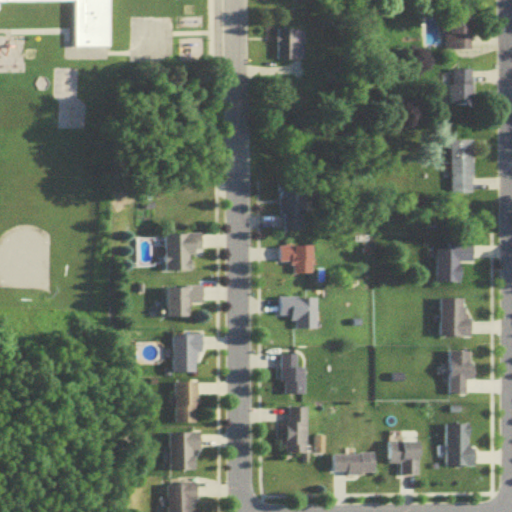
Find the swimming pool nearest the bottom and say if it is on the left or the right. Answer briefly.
left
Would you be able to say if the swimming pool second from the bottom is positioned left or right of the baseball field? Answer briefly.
to the right of it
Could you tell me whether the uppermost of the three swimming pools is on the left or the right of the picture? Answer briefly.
right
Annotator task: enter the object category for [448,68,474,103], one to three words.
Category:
house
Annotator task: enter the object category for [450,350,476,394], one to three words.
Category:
house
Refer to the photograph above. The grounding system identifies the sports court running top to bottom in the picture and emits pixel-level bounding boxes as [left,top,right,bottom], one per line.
[54,68,86,132]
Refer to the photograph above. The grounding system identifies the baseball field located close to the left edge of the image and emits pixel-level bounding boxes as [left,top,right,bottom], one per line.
[0,224,50,292]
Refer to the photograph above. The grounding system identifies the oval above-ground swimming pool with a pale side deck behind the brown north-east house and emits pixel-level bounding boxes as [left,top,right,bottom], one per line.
[421,20,440,48]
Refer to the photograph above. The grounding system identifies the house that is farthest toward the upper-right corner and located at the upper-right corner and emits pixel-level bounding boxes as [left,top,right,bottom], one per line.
[446,22,472,49]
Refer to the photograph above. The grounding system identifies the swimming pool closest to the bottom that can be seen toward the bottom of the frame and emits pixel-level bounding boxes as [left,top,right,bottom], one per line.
[136,342,163,364]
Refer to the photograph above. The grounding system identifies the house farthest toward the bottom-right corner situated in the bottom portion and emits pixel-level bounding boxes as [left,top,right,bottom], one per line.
[447,423,478,467]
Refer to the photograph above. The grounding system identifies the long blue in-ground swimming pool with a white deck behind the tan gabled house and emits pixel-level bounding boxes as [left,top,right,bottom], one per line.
[136,237,158,267]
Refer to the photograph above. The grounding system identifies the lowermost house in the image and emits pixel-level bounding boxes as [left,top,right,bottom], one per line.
[168,482,197,512]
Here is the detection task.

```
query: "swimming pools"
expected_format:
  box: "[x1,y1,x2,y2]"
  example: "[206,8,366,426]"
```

[136,237,158,267]
[421,20,440,48]
[136,342,163,364]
